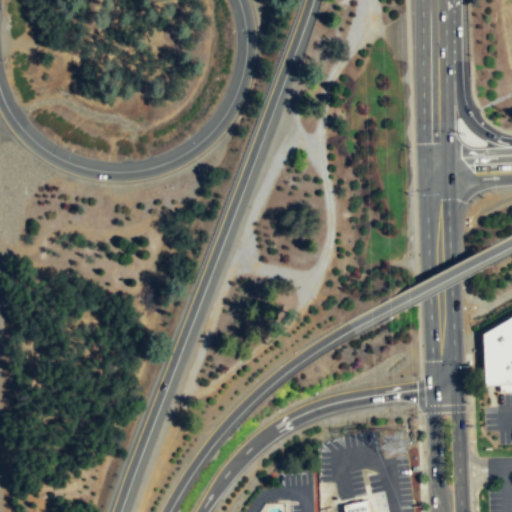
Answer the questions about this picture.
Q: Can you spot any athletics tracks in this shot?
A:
No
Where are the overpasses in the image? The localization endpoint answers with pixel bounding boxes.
[352,234,512,336]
